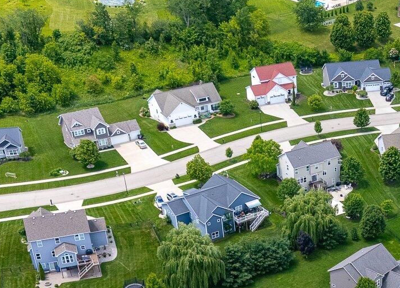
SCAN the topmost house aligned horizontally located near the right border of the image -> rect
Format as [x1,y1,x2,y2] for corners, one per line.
[321,60,391,92]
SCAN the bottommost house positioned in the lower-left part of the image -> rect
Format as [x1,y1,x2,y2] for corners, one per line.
[24,202,109,277]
